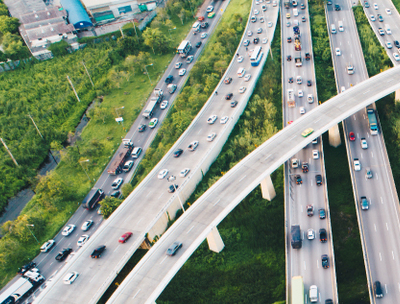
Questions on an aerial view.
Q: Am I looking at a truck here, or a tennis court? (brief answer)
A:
truck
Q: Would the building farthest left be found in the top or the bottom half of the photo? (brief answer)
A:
top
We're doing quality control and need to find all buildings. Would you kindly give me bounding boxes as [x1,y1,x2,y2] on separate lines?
[2,0,75,59]
[82,0,155,29]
